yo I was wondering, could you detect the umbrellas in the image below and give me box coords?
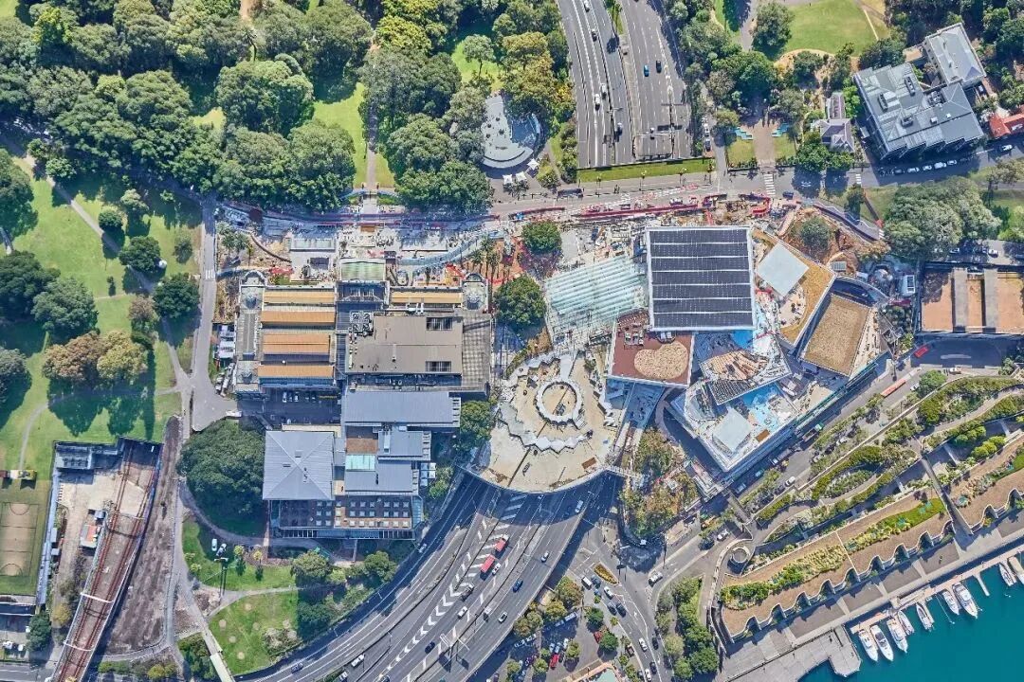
[501,172,513,185]
[514,170,527,182]
[525,156,541,171]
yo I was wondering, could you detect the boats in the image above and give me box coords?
[1007,552,1024,584]
[896,607,914,635]
[858,627,877,658]
[914,602,932,632]
[942,589,958,615]
[886,615,908,652]
[870,623,893,660]
[952,579,975,618]
[997,561,1013,588]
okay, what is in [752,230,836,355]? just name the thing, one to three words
building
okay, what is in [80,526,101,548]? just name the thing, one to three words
shed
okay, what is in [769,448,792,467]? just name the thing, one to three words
vehicle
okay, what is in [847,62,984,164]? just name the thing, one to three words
building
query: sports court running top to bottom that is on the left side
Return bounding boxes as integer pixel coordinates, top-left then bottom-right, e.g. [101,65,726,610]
[0,479,45,596]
